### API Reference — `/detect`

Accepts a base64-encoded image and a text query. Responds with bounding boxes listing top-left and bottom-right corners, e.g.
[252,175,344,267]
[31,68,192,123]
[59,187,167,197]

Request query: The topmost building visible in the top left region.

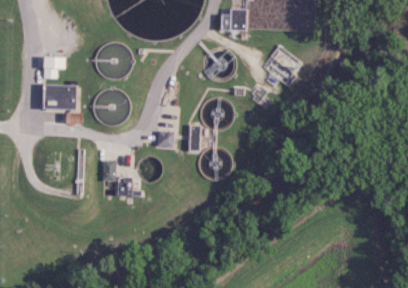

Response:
[43,57,66,70]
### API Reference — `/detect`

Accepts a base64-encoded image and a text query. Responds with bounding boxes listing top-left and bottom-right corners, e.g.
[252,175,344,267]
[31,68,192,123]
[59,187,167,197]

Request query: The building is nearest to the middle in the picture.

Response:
[188,126,202,154]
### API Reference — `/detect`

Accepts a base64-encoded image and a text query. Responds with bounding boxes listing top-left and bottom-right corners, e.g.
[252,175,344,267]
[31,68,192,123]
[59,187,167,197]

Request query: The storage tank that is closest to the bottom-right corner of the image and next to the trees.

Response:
[198,147,236,182]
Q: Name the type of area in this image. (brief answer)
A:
industrial area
